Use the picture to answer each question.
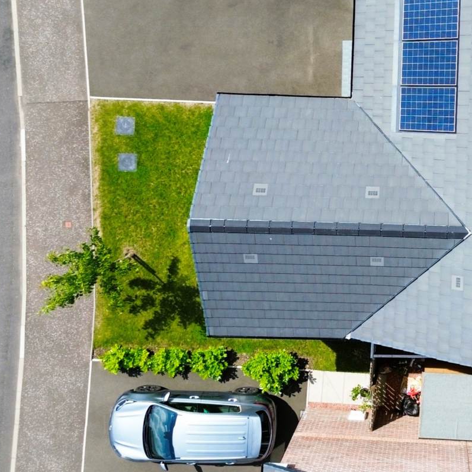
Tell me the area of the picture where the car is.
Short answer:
bottom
